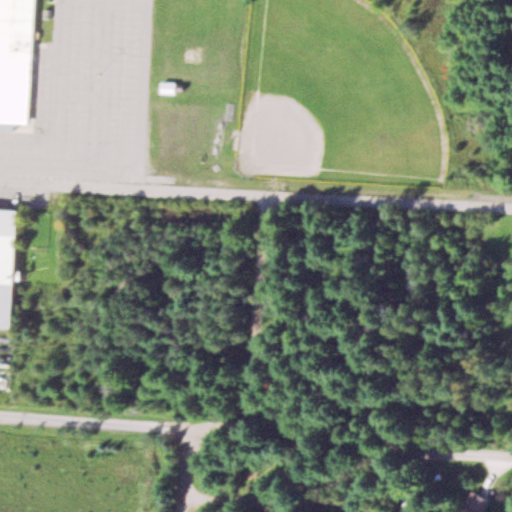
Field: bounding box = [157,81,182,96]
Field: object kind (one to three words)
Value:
shed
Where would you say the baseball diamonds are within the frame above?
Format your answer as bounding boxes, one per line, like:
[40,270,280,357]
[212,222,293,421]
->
[238,0,446,184]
